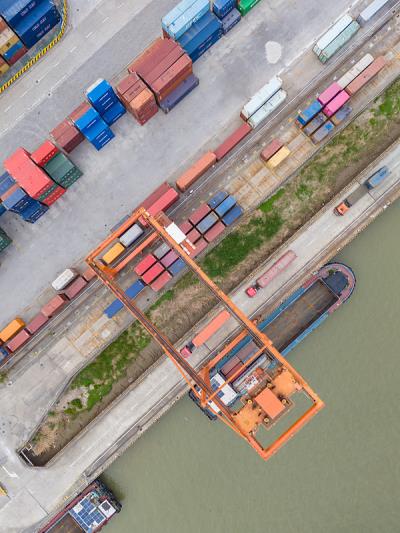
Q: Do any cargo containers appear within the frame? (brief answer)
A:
Yes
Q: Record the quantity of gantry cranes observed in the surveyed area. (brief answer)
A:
1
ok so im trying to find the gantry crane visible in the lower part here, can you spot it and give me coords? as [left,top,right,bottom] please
[90,206,324,457]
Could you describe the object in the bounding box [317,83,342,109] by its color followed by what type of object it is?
pink shipping container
